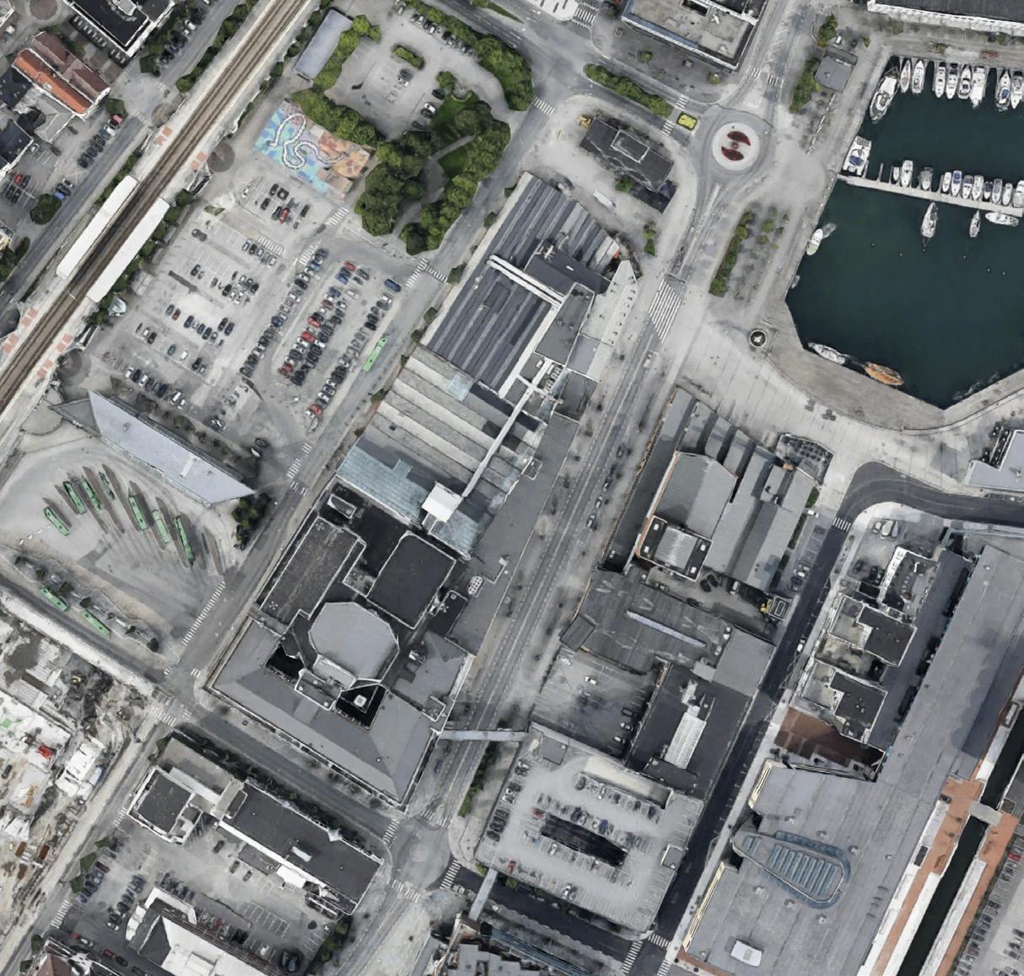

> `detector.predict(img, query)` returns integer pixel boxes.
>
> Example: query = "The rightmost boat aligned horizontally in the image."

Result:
[984,210,1017,226]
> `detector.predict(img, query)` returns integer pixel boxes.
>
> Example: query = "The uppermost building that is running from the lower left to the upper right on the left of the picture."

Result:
[294,8,353,81]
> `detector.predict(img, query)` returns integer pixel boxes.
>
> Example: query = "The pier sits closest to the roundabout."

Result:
[839,163,1024,217]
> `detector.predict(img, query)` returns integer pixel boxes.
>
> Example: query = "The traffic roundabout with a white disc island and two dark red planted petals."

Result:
[696,106,775,186]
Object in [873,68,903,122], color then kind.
white boat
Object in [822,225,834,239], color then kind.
gray boat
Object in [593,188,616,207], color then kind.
white vehicle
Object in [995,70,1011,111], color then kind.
white boat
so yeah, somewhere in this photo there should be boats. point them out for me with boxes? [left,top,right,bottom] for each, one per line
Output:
[951,170,962,196]
[910,60,924,95]
[995,70,1011,111]
[1012,180,1024,208]
[935,62,946,97]
[969,211,986,238]
[822,225,834,239]
[991,179,1002,204]
[790,276,799,289]
[984,210,1017,226]
[921,167,932,190]
[899,59,913,93]
[972,175,984,200]
[962,175,973,199]
[920,202,942,239]
[843,139,872,178]
[971,65,986,108]
[900,160,913,187]
[946,63,959,99]
[809,343,847,365]
[1002,183,1012,206]
[893,167,899,181]
[1010,70,1024,109]
[942,172,951,192]
[873,68,903,122]
[983,181,992,199]
[957,66,972,100]
[805,229,822,256]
